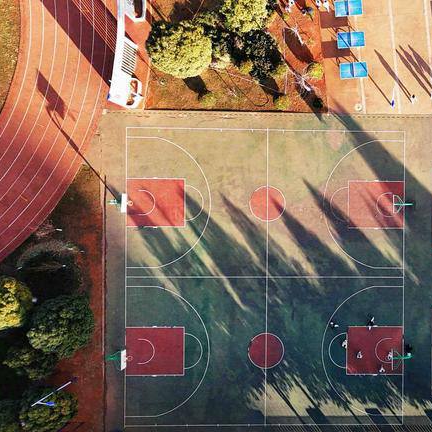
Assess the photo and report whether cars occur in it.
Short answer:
No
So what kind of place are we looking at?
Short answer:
sports ground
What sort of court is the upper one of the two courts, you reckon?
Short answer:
basketball court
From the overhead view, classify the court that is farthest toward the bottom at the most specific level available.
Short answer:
basketball court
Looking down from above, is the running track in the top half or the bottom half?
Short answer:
top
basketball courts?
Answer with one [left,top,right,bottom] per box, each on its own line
[123,277,403,426]
[125,127,404,277]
